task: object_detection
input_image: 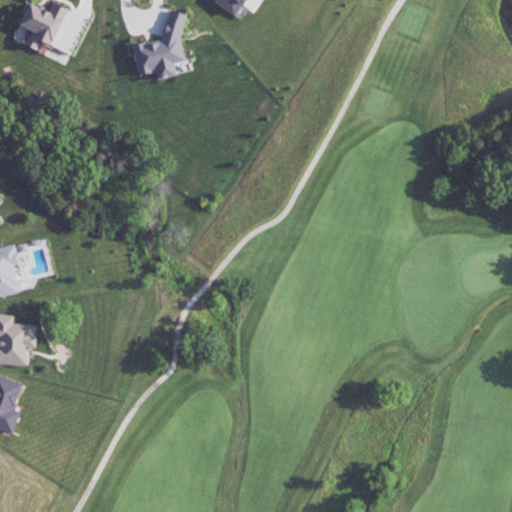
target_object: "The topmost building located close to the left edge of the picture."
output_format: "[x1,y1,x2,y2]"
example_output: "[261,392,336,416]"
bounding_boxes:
[12,0,71,42]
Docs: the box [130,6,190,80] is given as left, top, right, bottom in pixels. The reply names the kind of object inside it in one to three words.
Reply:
house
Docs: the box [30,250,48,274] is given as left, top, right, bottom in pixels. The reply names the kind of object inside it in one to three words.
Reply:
swimming pool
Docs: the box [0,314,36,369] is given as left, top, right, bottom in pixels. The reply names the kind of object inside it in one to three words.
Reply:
house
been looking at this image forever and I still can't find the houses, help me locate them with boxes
[12,0,71,42]
[130,6,190,80]
[0,240,23,298]
[208,0,252,20]
[0,371,26,437]
[0,314,36,369]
